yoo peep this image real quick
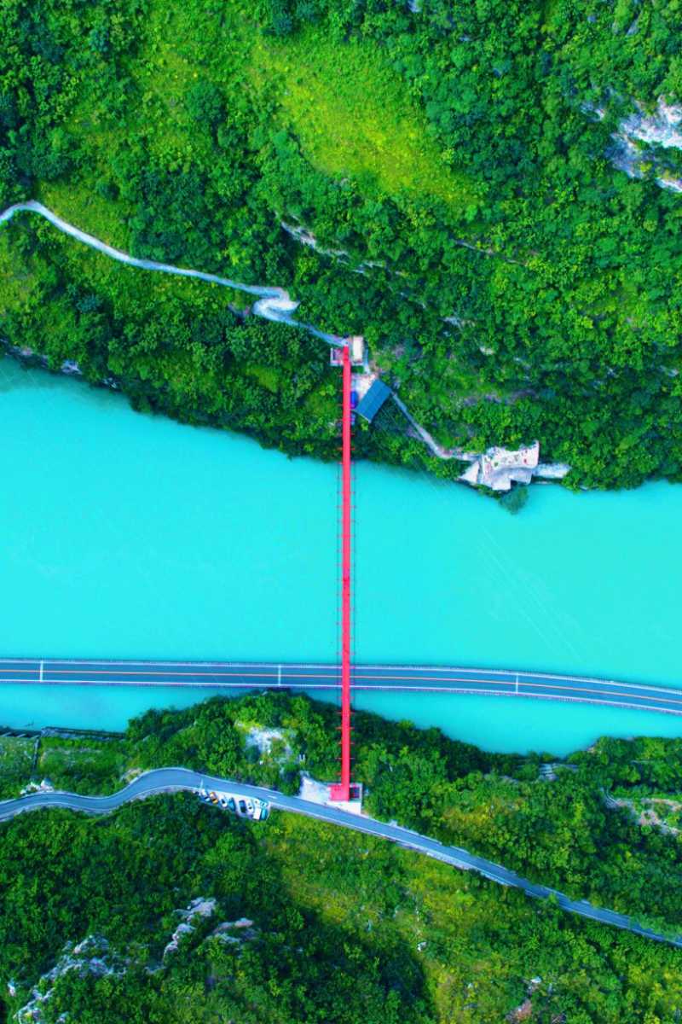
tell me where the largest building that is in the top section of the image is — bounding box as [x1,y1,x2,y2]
[354,380,392,422]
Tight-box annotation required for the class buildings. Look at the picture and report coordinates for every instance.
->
[353,337,363,362]
[354,380,392,422]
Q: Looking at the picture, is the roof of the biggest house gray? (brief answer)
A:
No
